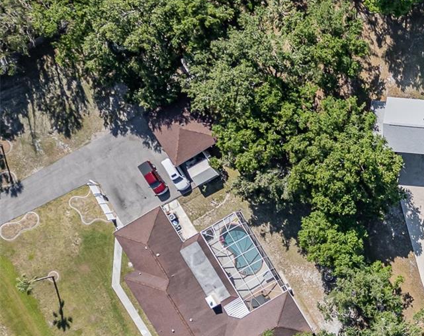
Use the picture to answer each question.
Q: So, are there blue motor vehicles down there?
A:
No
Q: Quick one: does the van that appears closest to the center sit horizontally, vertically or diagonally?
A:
diagonally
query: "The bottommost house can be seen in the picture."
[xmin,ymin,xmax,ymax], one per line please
[114,206,315,336]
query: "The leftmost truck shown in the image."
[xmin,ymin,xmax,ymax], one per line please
[138,159,170,197]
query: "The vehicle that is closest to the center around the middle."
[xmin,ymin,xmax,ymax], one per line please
[159,158,191,192]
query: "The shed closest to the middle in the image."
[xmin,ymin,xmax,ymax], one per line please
[188,159,220,186]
